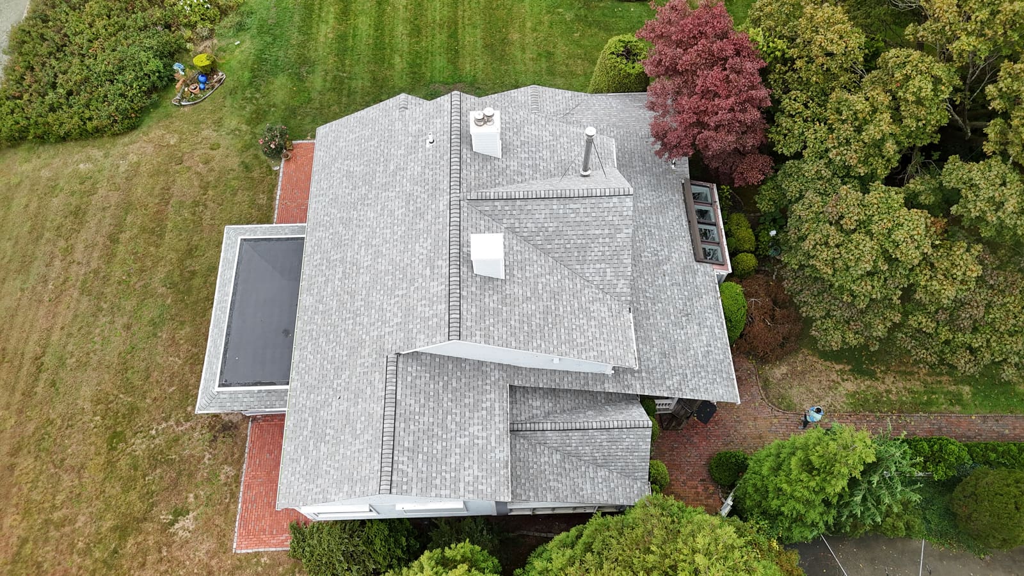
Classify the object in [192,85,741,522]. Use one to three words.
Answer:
house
